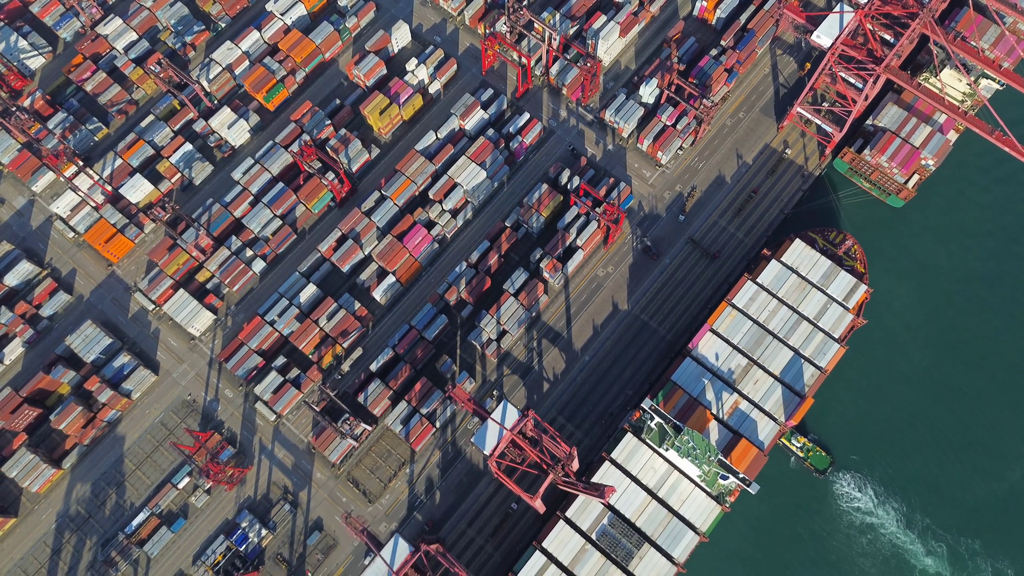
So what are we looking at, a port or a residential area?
port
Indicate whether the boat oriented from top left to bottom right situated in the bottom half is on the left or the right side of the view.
right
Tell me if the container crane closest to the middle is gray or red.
red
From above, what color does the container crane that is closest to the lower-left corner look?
red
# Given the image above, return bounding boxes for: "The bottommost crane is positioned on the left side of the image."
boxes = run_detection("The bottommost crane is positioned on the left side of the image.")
[326,497,489,576]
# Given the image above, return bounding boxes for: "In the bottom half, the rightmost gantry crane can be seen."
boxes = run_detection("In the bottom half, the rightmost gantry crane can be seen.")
[438,370,624,523]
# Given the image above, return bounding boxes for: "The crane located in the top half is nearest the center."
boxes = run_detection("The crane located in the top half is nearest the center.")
[564,180,630,251]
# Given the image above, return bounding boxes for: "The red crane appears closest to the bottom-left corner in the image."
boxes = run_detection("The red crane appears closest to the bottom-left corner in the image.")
[166,425,251,496]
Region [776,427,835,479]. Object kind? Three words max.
boat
